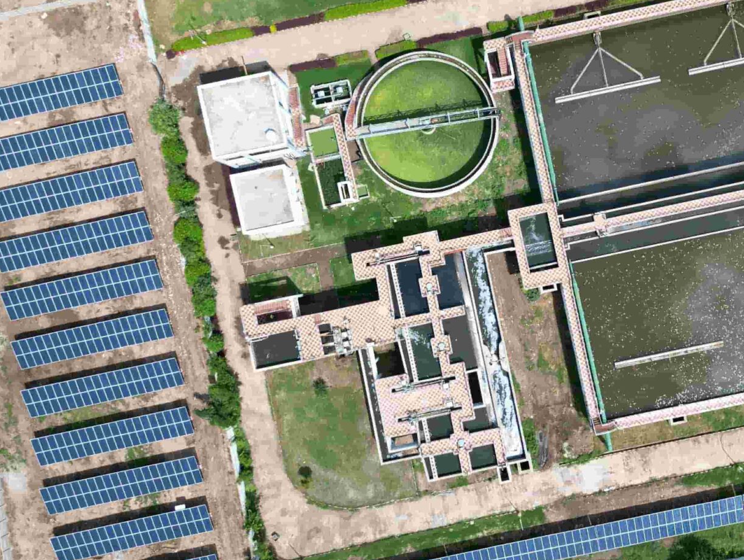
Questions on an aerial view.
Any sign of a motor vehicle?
No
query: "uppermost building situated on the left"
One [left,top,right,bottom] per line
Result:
[197,71,304,168]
